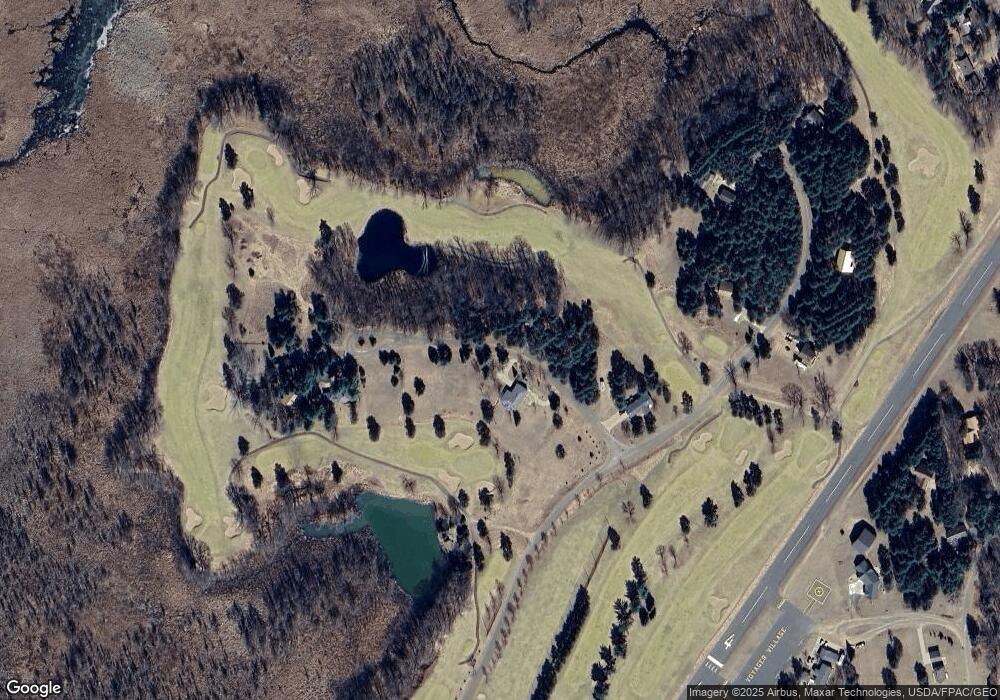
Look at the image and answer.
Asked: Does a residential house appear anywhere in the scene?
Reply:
Yes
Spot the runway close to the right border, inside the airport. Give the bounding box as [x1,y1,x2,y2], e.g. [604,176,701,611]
[680,231,1000,700]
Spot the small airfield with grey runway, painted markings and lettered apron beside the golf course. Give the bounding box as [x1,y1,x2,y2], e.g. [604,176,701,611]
[680,231,1000,700]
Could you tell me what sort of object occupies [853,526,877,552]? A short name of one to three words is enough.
hangar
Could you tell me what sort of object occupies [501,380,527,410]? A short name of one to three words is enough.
house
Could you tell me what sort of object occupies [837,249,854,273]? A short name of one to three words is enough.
house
